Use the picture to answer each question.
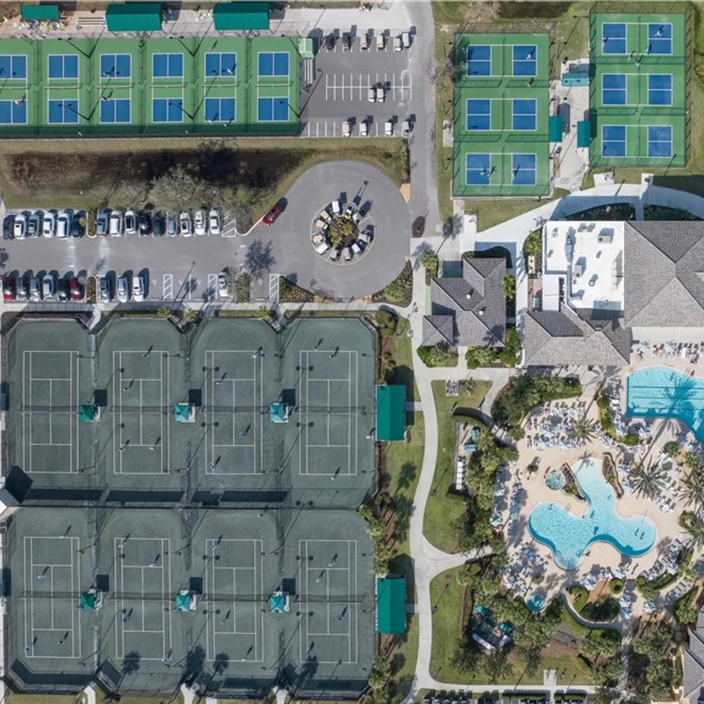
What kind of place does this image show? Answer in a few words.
sports ground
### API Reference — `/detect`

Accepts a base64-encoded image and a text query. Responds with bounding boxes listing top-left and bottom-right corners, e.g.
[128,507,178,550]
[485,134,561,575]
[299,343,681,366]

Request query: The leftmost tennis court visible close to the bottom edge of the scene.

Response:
[6,507,95,692]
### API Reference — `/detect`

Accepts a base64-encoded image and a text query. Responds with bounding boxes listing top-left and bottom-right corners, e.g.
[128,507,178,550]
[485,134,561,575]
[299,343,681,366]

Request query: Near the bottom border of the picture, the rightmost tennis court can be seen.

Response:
[279,507,375,697]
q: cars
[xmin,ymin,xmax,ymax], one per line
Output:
[180,211,191,236]
[97,277,111,301]
[131,276,145,301]
[117,276,130,301]
[56,277,70,302]
[70,276,84,301]
[1,276,15,301]
[262,203,285,225]
[152,211,166,237]
[56,212,71,237]
[40,274,55,298]
[96,211,111,237]
[124,209,137,235]
[110,208,124,238]
[72,212,86,238]
[138,211,152,237]
[43,212,56,237]
[16,276,30,301]
[196,210,206,235]
[209,209,221,234]
[25,210,41,240]
[165,214,178,238]
[1,215,15,240]
[29,276,42,301]
[13,214,27,239]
